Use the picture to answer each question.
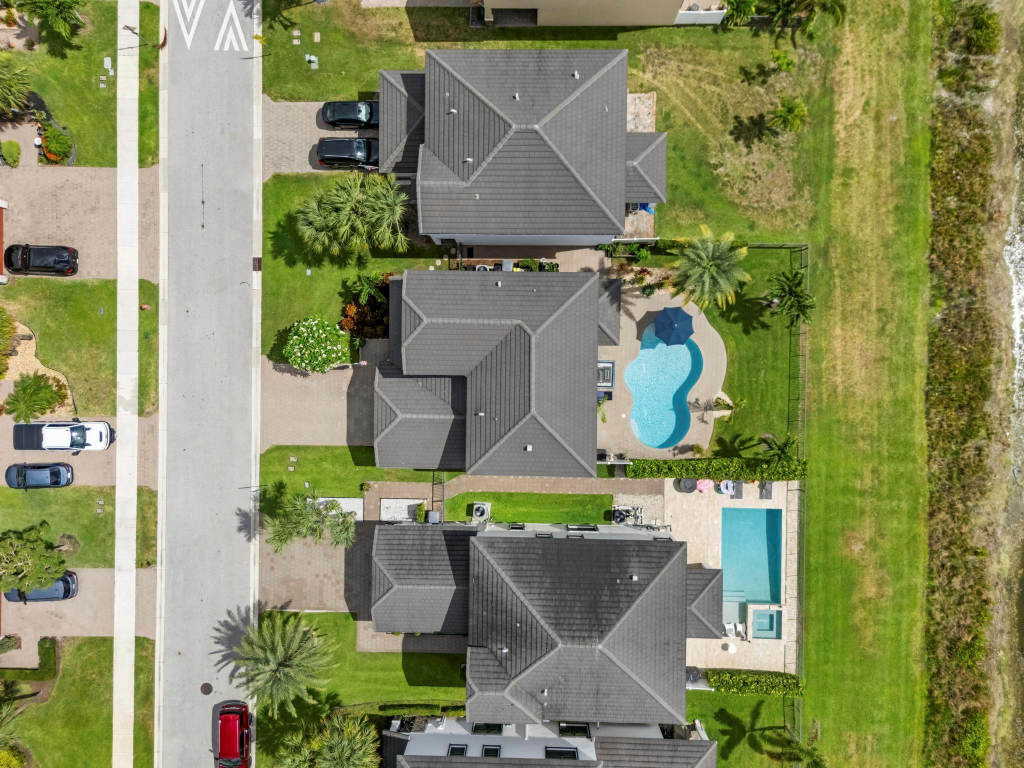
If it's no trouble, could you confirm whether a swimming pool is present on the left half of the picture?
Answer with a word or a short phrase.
No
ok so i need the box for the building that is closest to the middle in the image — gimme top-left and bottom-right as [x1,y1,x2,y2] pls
[371,269,622,479]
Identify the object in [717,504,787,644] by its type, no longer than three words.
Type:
swimming pool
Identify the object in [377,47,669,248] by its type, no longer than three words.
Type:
house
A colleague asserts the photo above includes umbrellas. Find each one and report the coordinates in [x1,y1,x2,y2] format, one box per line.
[652,305,695,348]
